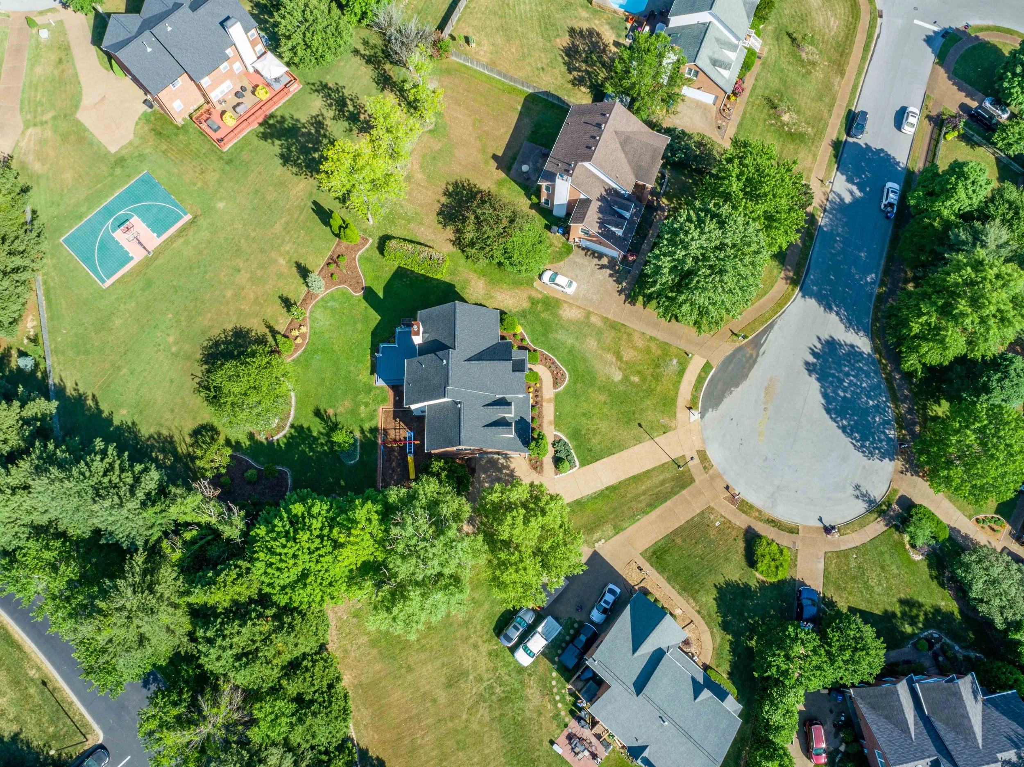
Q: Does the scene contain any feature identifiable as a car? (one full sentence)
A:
Yes, the frame does contain a car.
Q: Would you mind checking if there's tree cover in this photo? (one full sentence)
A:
Yes, there's tree cover in this view.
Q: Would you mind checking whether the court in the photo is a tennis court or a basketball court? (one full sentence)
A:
Looking closely, the court is a basketball court.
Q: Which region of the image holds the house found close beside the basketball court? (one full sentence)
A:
Look in the top left portion of the view to spot the house found close beside the basketball court.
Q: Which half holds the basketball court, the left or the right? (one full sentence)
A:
The basketball court sits on the left side.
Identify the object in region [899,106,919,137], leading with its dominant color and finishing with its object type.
white car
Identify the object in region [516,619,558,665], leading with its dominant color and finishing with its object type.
white truck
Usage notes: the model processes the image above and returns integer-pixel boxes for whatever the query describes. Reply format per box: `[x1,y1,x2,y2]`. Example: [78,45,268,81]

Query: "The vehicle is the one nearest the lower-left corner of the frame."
[81,741,114,767]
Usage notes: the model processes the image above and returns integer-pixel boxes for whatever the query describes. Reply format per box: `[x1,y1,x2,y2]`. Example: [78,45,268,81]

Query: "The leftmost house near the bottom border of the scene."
[585,593,742,767]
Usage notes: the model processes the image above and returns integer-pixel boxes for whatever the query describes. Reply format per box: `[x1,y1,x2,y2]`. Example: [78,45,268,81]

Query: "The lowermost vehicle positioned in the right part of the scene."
[807,721,829,764]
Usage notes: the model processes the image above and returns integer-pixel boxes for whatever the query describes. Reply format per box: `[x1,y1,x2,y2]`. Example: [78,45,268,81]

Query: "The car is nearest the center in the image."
[541,272,577,295]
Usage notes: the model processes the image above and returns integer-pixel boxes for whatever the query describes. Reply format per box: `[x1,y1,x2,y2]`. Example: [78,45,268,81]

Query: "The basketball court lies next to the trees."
[59,169,192,289]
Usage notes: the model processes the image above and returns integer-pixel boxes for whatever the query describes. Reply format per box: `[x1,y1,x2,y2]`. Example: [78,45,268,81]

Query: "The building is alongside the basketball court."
[102,0,267,117]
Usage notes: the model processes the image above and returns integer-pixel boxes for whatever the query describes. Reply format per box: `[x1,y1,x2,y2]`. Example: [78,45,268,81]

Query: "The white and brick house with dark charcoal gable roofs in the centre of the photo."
[404,303,532,454]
